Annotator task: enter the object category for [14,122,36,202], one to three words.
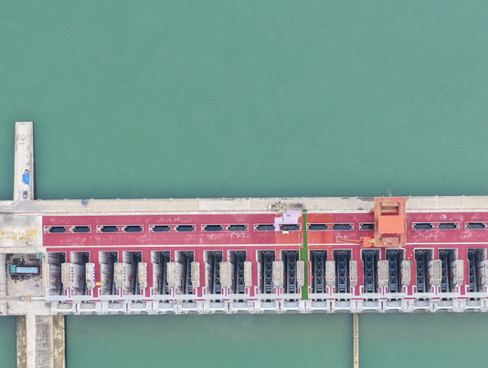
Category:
pier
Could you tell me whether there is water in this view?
Yes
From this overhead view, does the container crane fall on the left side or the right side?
right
